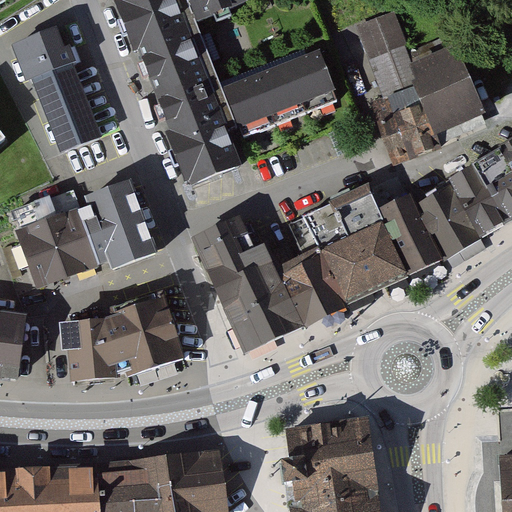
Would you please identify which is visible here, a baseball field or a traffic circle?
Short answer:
traffic circle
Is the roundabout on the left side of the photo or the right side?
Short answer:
right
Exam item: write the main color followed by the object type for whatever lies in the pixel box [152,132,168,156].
white car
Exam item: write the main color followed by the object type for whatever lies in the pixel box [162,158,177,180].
white vehicle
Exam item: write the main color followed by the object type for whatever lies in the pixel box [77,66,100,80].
black vehicle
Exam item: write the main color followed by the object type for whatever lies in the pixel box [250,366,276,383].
white vehicle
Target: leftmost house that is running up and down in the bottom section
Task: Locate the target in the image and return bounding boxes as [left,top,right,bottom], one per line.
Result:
[0,310,28,380]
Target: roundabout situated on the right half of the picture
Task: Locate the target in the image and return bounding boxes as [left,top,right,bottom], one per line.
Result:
[348,312,462,424]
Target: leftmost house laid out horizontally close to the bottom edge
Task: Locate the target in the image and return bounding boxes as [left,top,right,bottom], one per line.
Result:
[0,464,104,512]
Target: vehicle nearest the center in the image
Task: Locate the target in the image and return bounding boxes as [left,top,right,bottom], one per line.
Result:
[270,222,284,242]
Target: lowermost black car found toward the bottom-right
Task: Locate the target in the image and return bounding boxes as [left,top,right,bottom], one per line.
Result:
[379,408,394,431]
